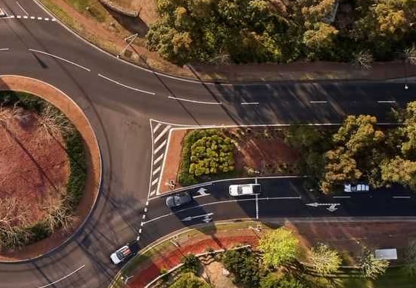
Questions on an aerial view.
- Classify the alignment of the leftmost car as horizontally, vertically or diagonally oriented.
diagonally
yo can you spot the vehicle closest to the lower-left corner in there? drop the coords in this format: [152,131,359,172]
[109,241,138,266]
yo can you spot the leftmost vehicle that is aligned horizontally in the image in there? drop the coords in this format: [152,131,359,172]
[164,192,195,208]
